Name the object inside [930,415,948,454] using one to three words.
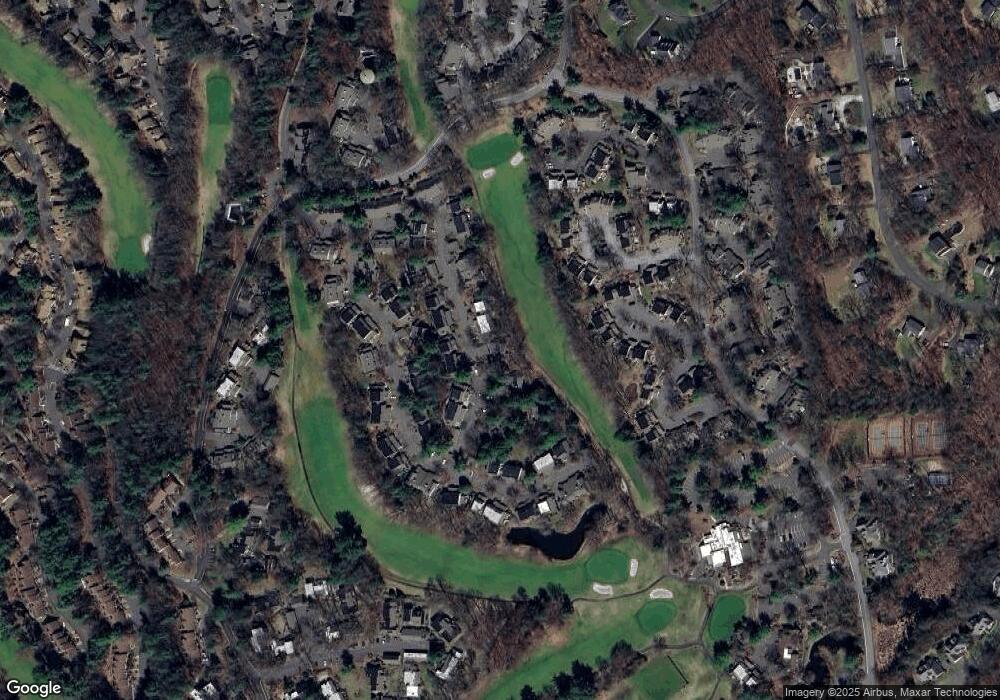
tennis court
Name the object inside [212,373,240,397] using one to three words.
house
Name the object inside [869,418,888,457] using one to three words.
tennis court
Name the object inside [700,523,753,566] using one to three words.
building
